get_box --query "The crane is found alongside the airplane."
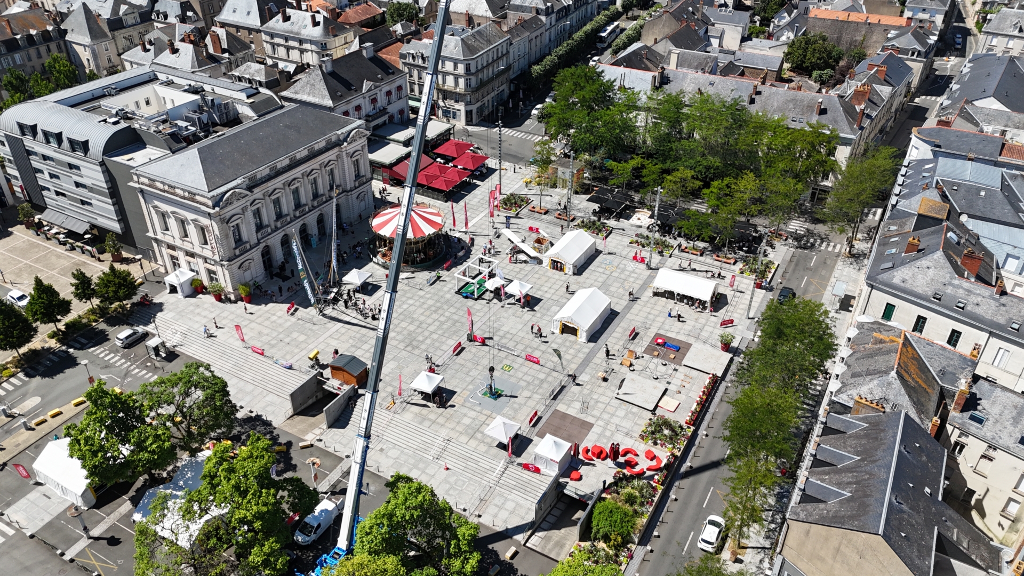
[260,0,498,576]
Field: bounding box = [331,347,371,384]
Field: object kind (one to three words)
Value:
shed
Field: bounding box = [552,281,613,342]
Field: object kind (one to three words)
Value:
tent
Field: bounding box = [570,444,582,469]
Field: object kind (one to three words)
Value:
umbrella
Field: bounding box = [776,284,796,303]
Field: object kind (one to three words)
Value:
car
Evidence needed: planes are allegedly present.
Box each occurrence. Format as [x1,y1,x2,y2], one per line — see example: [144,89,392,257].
[500,230,552,261]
